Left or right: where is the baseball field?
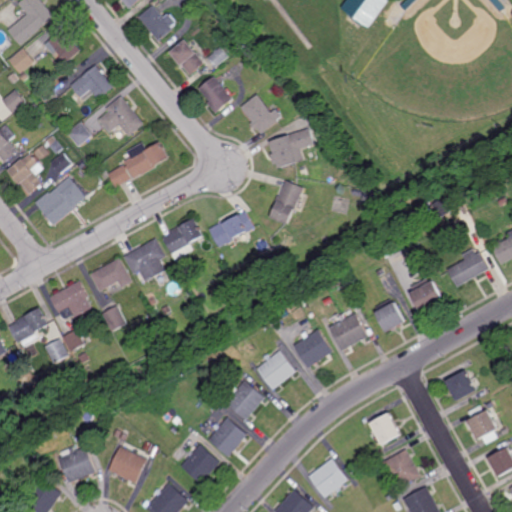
right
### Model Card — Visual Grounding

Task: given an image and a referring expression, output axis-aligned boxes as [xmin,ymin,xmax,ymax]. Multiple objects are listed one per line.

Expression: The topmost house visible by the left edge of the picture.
[6,0,52,46]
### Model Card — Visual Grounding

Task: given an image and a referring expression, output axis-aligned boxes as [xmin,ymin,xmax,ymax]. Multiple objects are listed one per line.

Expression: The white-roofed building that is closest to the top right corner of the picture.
[340,0,390,29]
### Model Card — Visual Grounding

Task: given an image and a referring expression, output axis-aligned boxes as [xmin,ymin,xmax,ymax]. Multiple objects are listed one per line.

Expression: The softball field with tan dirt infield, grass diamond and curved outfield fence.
[358,0,512,121]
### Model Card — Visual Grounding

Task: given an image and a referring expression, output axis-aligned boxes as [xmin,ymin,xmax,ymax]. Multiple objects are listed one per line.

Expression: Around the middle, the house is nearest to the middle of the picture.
[210,211,256,245]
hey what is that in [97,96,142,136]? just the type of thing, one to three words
house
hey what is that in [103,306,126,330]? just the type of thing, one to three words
building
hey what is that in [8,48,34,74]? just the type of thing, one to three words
building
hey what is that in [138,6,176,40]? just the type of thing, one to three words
house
